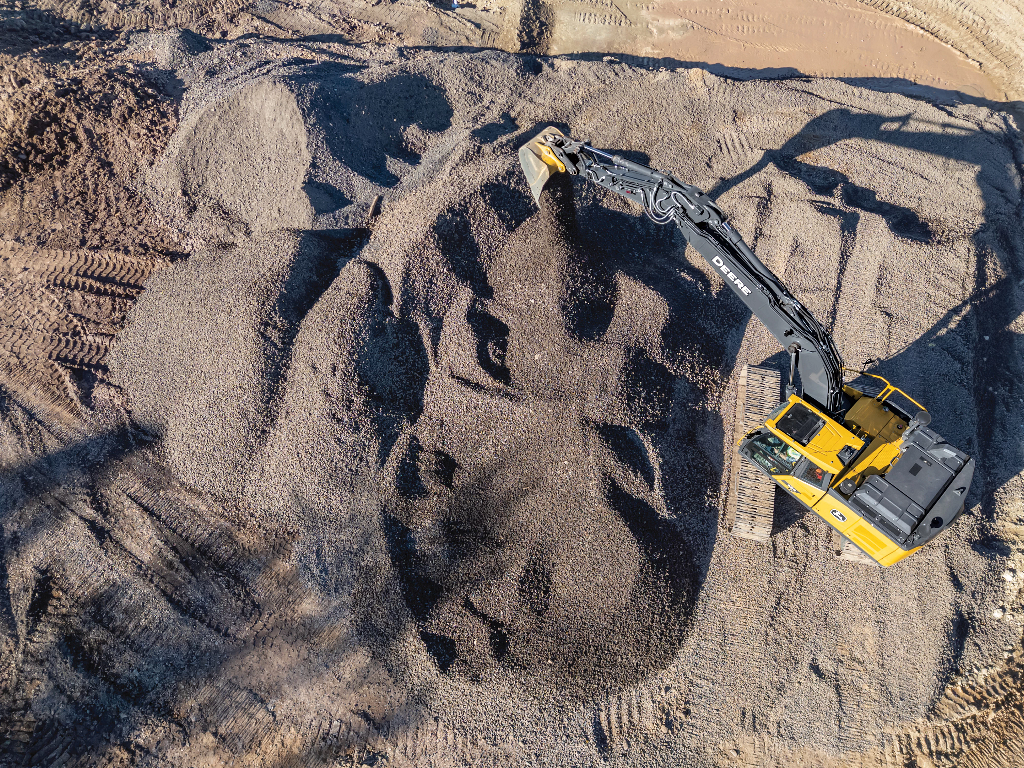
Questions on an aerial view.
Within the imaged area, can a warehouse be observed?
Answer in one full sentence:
No, I find no warehouse anywhere in the image.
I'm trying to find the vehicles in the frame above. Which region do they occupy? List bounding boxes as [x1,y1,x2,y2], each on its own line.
[518,119,972,570]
